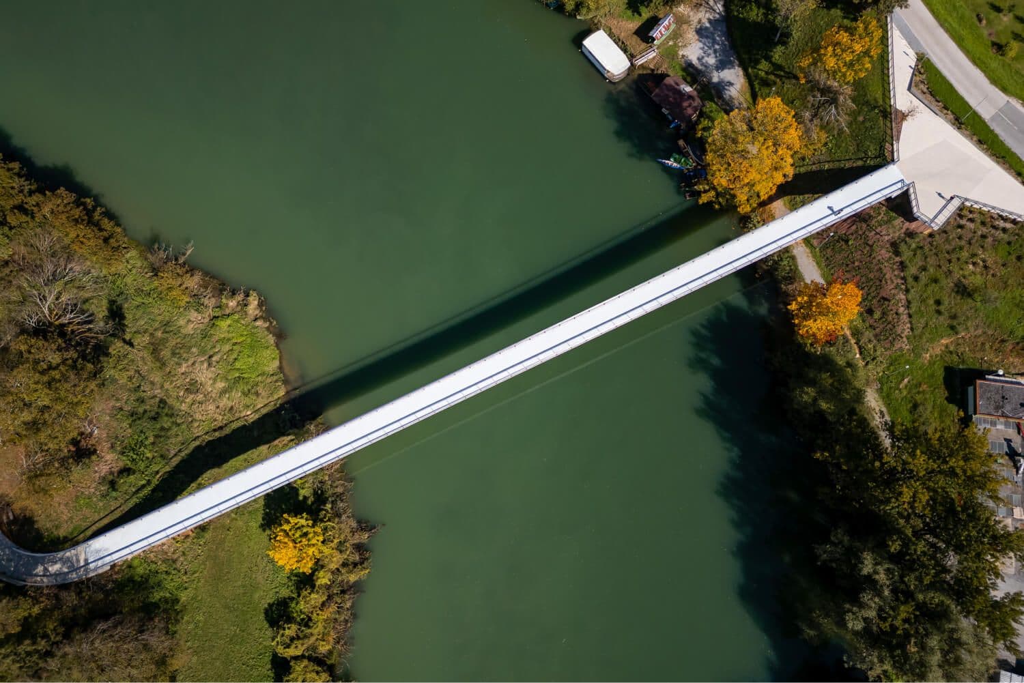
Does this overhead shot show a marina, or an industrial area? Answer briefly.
marina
